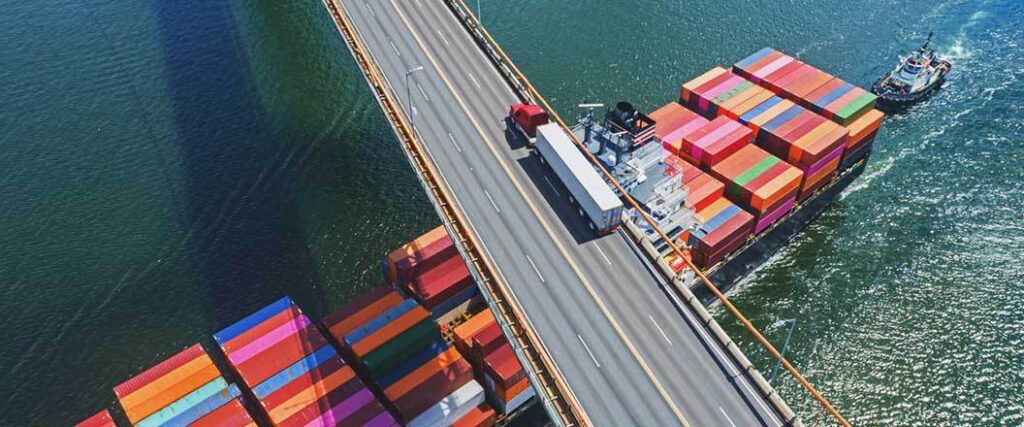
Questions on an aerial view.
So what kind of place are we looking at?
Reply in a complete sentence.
This image shows a port.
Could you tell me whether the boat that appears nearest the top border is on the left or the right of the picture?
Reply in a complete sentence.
You can find the boat that appears nearest the top border on the right side of the picture.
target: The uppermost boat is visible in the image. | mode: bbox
[870,27,954,103]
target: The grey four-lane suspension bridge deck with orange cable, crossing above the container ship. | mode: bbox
[320,0,854,427]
